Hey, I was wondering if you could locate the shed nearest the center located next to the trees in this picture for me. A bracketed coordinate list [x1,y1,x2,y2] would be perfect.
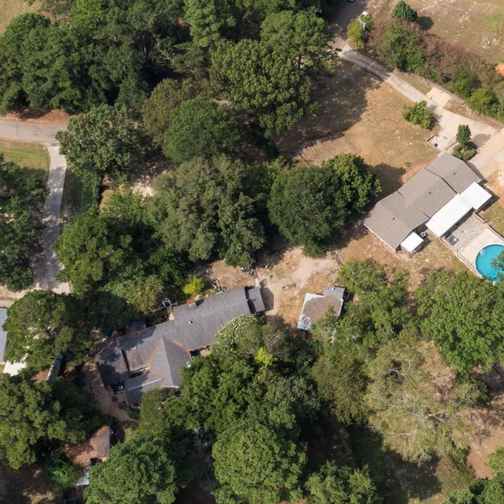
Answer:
[247,286,267,319]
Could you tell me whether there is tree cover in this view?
Yes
